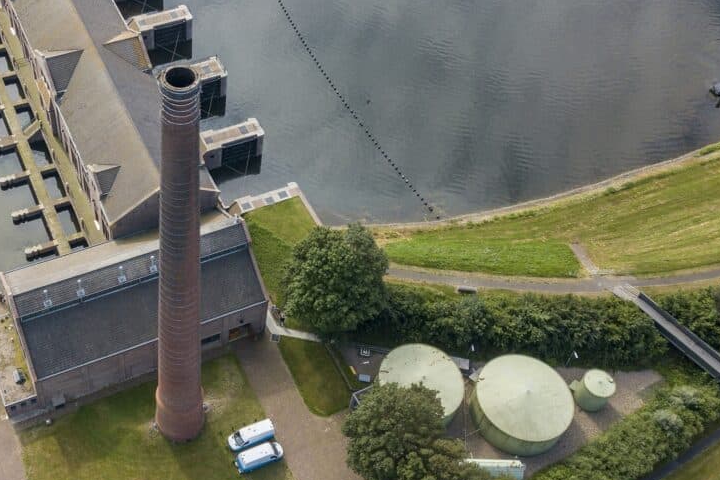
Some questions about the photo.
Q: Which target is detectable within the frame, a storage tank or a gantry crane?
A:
storage tank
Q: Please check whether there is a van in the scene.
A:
Yes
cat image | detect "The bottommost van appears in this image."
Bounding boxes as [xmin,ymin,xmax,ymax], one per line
[237,439,284,470]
